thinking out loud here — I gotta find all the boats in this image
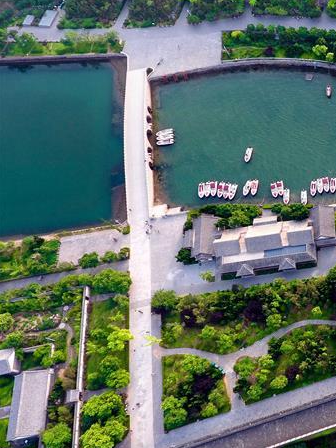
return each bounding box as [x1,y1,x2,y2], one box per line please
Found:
[317,177,324,192]
[276,180,284,195]
[323,176,330,191]
[330,177,336,191]
[157,134,174,140]
[210,180,217,196]
[230,183,239,199]
[223,182,230,198]
[198,181,205,197]
[244,179,253,194]
[283,188,290,202]
[302,189,308,202]
[310,179,317,195]
[158,139,176,145]
[270,181,277,197]
[204,181,211,196]
[252,179,259,194]
[246,146,253,161]
[157,129,174,135]
[217,181,225,197]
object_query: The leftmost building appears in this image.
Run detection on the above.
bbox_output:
[0,347,20,374]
